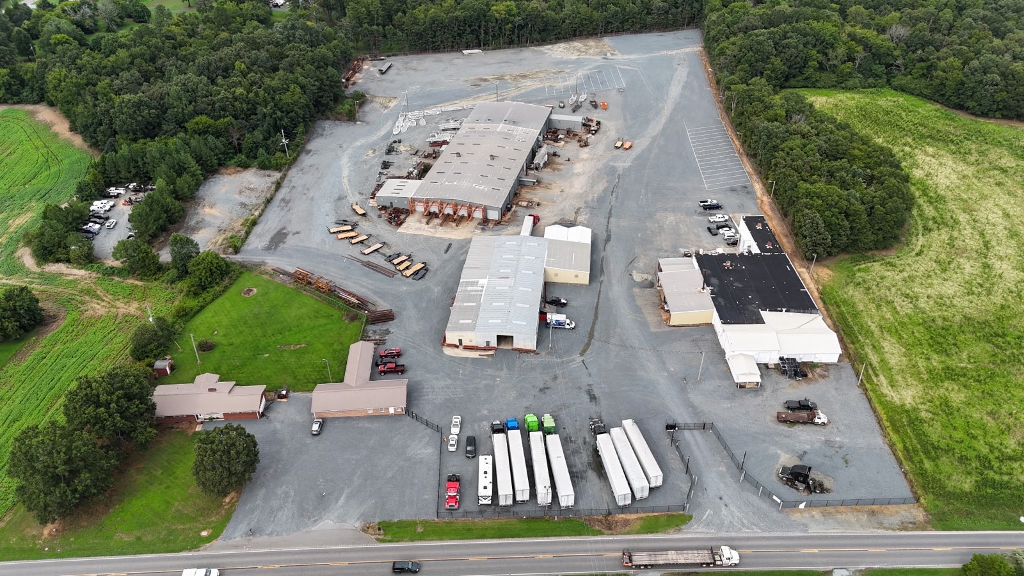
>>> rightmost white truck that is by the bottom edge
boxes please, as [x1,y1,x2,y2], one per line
[700,547,740,568]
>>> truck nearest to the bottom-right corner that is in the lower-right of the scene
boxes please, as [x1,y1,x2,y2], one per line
[781,468,825,496]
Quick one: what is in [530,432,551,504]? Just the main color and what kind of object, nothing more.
white trailer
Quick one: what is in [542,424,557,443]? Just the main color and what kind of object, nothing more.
green vehicle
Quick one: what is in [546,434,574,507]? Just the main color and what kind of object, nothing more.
white trailer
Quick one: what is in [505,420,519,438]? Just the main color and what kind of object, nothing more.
blue vehicle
